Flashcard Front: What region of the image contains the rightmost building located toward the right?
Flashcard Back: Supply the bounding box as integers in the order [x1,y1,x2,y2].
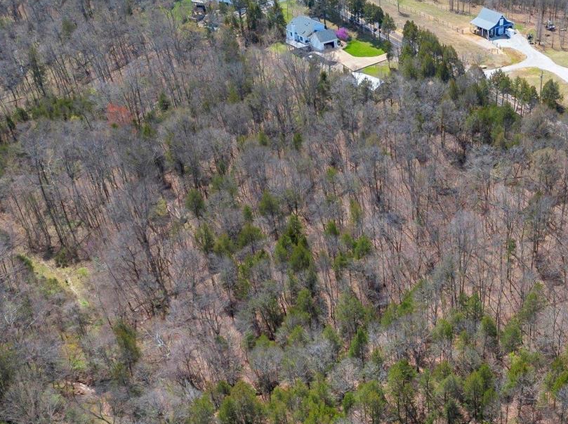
[469,7,515,40]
